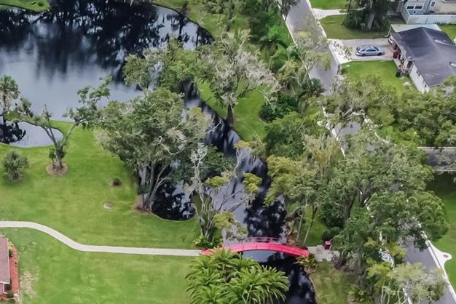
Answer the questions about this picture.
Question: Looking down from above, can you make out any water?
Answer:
Yes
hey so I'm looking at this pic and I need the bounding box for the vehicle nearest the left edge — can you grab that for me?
[355,42,387,56]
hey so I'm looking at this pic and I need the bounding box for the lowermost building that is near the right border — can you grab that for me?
[390,25,456,101]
